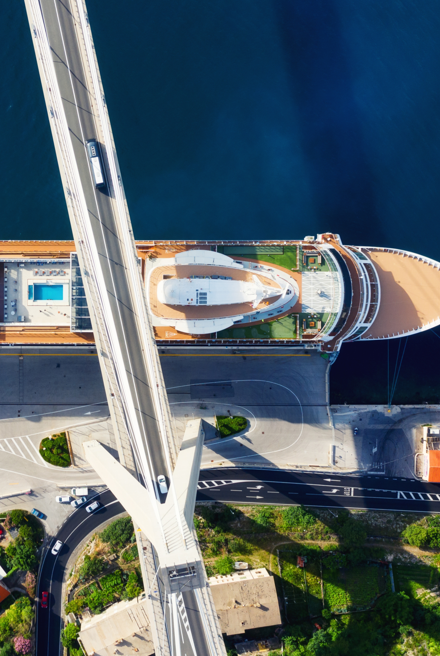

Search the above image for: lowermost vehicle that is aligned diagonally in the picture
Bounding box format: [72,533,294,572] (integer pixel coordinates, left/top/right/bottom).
[50,539,63,554]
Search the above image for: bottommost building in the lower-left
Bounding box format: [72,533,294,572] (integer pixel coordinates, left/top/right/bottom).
[79,594,154,656]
